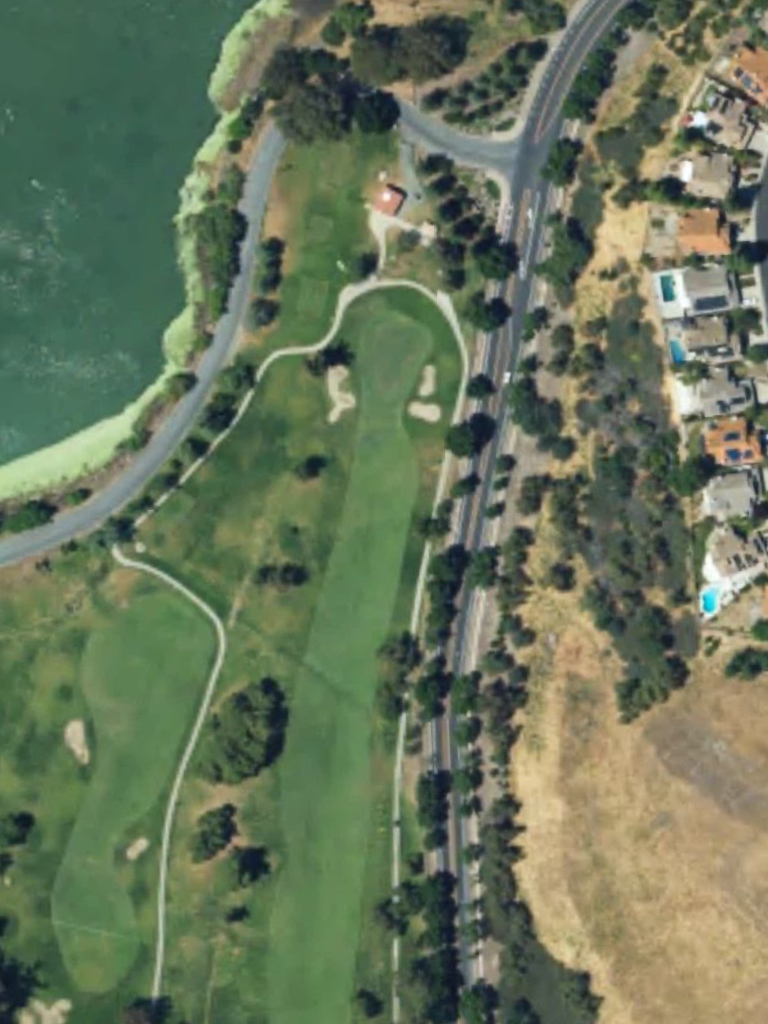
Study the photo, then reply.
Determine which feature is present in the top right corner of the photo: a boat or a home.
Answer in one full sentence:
It is a home that can be seen in the top right corner of the photo.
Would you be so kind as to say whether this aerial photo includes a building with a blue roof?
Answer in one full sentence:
No, there's no building with a blue roof here.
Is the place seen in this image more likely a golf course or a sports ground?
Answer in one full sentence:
What you see here is a golf course.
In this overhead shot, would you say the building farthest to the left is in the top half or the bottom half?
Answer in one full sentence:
It is in the top half that the building farthest to the left appears.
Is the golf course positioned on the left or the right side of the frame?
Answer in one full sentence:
The golf course sits on the left side.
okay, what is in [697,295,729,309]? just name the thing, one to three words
solar panel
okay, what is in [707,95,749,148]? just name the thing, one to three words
house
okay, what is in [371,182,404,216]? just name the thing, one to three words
building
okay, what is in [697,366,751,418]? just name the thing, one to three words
house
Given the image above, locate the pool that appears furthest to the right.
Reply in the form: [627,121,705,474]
[701,586,718,613]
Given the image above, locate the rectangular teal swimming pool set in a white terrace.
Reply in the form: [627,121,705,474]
[660,273,676,302]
